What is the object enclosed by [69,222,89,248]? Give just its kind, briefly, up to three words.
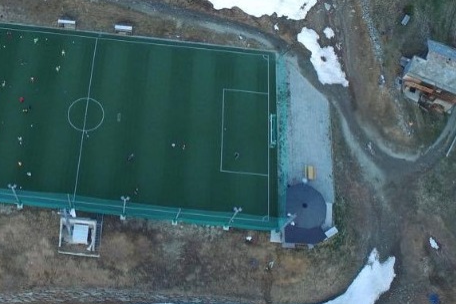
building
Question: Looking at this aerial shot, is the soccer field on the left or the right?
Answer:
left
